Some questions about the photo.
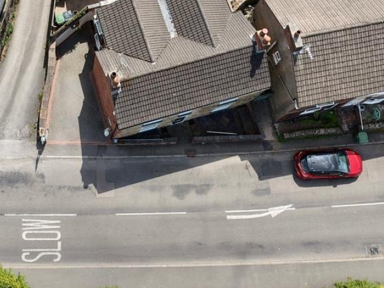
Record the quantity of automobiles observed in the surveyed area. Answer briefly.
1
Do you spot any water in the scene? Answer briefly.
No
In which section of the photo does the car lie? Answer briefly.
right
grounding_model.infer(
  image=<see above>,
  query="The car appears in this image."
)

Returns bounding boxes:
[294,146,362,184]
